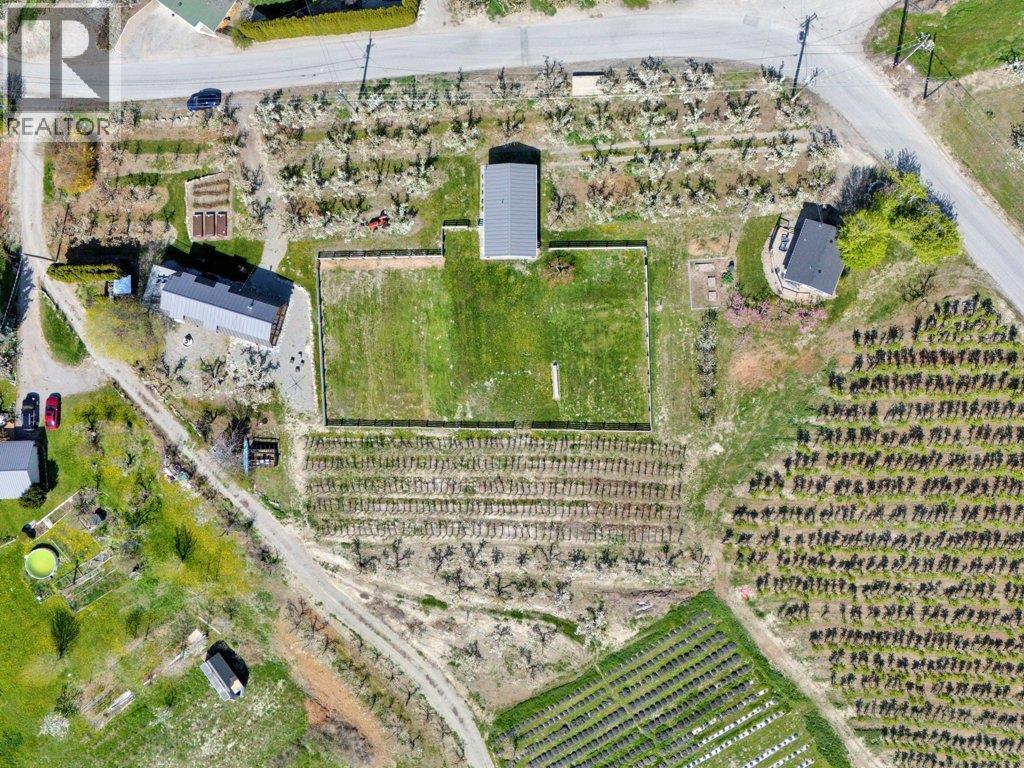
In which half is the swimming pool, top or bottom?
bottom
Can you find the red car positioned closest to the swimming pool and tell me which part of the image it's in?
left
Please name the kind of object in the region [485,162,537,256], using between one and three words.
barn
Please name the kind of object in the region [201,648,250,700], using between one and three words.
shed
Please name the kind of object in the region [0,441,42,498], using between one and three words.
shed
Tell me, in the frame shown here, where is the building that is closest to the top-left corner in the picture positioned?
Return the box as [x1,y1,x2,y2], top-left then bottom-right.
[158,0,256,46]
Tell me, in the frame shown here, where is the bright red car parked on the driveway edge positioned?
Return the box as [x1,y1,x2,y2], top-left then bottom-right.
[46,394,66,428]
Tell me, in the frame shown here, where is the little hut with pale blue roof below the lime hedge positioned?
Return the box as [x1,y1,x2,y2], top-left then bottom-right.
[113,276,141,295]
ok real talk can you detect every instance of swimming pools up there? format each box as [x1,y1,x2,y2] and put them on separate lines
[26,545,61,578]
